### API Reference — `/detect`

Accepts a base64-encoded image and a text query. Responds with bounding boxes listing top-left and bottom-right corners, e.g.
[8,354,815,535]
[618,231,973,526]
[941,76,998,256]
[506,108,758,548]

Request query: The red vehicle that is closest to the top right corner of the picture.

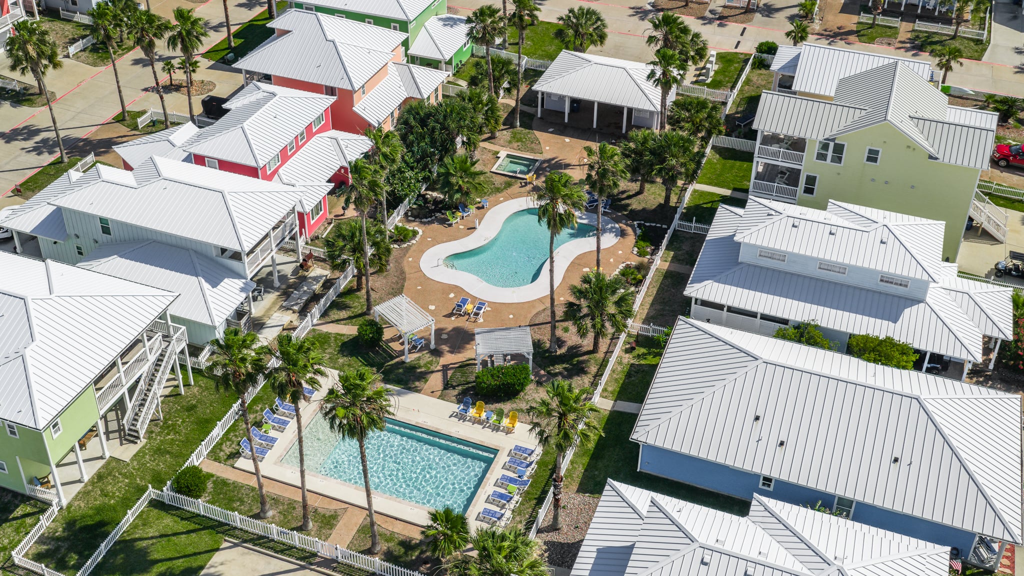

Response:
[993,147,1024,169]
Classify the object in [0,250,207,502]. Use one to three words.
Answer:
house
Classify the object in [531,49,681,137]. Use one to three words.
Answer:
building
